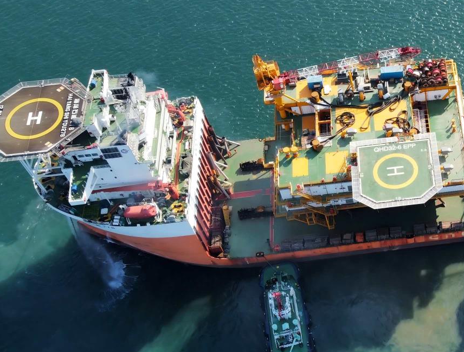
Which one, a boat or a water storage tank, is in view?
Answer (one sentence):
Looking from above, you can make out a boat.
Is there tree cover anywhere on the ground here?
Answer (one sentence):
No, there is no tree cover in the image.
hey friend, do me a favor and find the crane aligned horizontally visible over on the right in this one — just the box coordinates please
[247,42,427,131]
